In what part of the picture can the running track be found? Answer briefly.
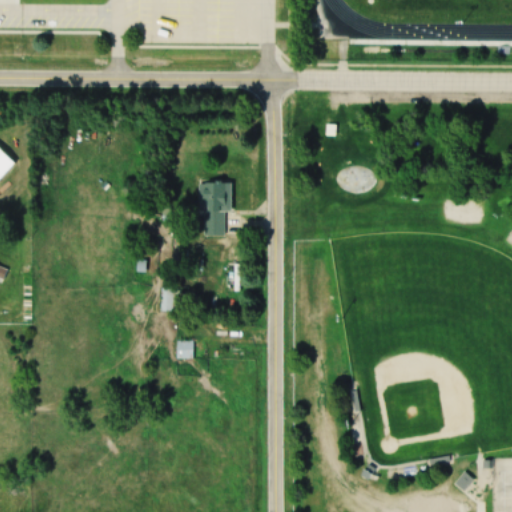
top right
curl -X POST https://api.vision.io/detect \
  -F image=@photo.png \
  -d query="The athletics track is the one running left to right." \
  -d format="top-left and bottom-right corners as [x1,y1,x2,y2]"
[322,0,512,40]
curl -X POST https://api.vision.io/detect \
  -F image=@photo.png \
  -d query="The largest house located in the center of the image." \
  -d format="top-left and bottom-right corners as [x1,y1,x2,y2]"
[199,179,232,234]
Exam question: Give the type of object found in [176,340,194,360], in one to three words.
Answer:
shed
